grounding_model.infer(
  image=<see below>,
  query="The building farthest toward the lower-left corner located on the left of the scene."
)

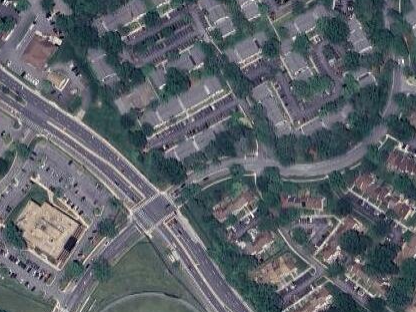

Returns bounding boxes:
[16,201,89,264]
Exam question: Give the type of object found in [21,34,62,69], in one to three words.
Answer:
building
